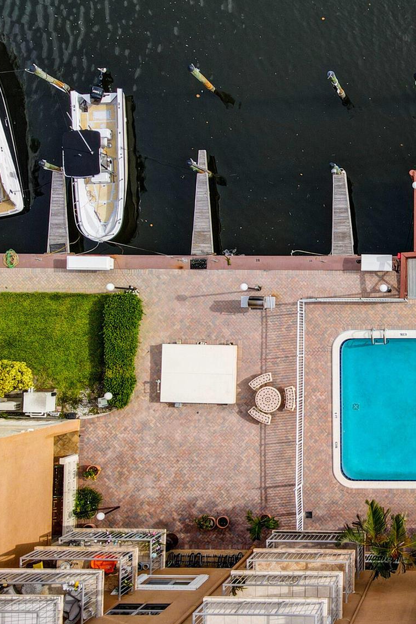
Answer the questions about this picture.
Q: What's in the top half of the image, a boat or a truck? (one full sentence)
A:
The feature located in the top half of the image is a boat.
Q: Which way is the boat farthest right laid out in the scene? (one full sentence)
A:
The boat farthest right is oriented vertically.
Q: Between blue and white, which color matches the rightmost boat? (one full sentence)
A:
In this view, the rightmost boat is white.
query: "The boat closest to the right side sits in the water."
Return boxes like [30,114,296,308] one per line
[62,65,131,242]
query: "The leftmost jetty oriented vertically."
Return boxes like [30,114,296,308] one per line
[46,171,78,253]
